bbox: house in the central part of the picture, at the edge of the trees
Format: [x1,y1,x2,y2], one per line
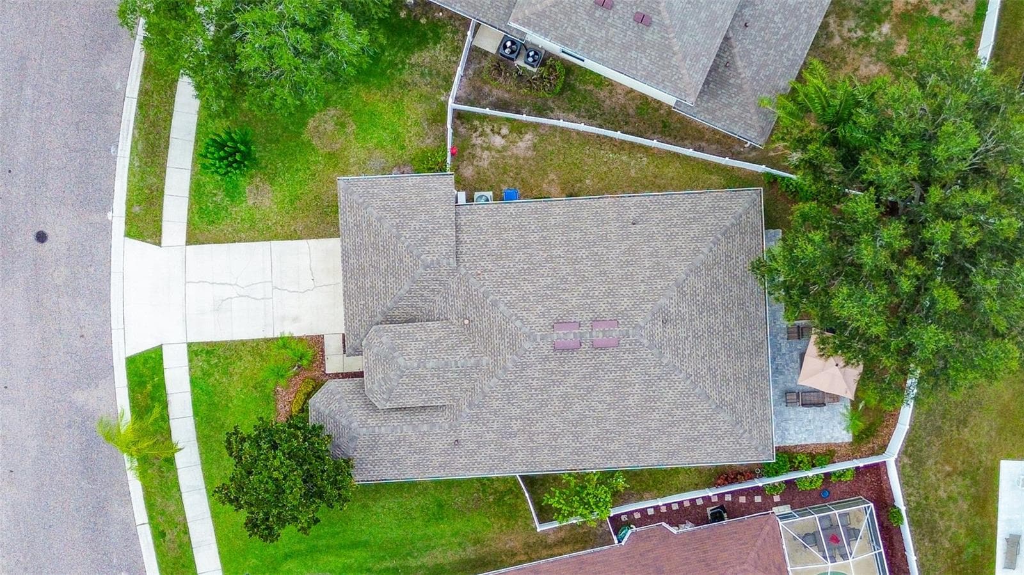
[307,173,775,483]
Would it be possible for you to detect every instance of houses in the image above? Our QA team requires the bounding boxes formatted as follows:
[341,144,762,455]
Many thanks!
[484,510,791,575]
[428,0,827,153]
[307,173,775,483]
